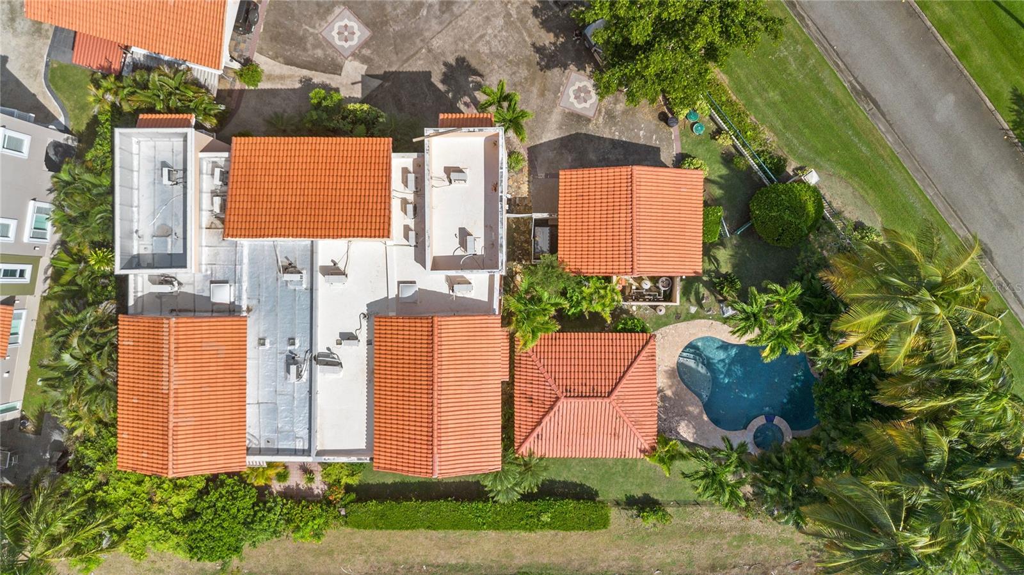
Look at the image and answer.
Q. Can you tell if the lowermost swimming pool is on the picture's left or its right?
right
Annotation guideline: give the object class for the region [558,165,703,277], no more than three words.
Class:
building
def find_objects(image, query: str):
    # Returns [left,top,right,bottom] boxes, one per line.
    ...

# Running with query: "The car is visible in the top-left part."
[227,0,260,33]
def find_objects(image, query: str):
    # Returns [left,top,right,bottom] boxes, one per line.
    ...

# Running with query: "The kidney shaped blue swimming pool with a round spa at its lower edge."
[677,336,825,449]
